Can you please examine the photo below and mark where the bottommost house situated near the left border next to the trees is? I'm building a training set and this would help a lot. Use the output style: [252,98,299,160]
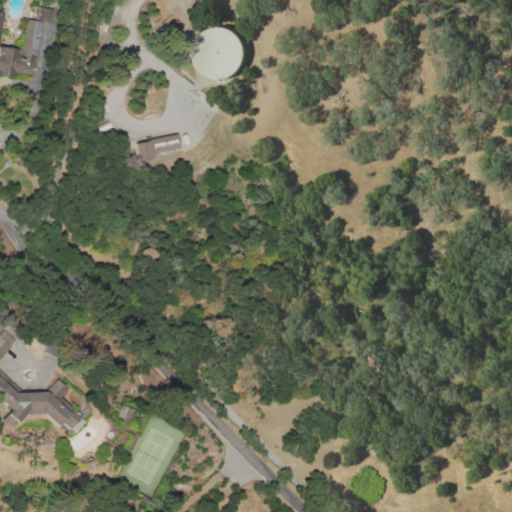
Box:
[0,368,92,436]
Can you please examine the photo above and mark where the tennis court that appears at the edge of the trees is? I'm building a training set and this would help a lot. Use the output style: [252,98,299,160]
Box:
[120,417,184,496]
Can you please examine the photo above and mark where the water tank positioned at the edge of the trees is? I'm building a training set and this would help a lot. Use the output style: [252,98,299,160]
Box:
[192,26,244,79]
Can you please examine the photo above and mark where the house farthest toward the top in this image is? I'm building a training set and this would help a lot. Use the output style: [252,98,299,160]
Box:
[0,6,56,78]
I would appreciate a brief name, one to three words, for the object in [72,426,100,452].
swimming pool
